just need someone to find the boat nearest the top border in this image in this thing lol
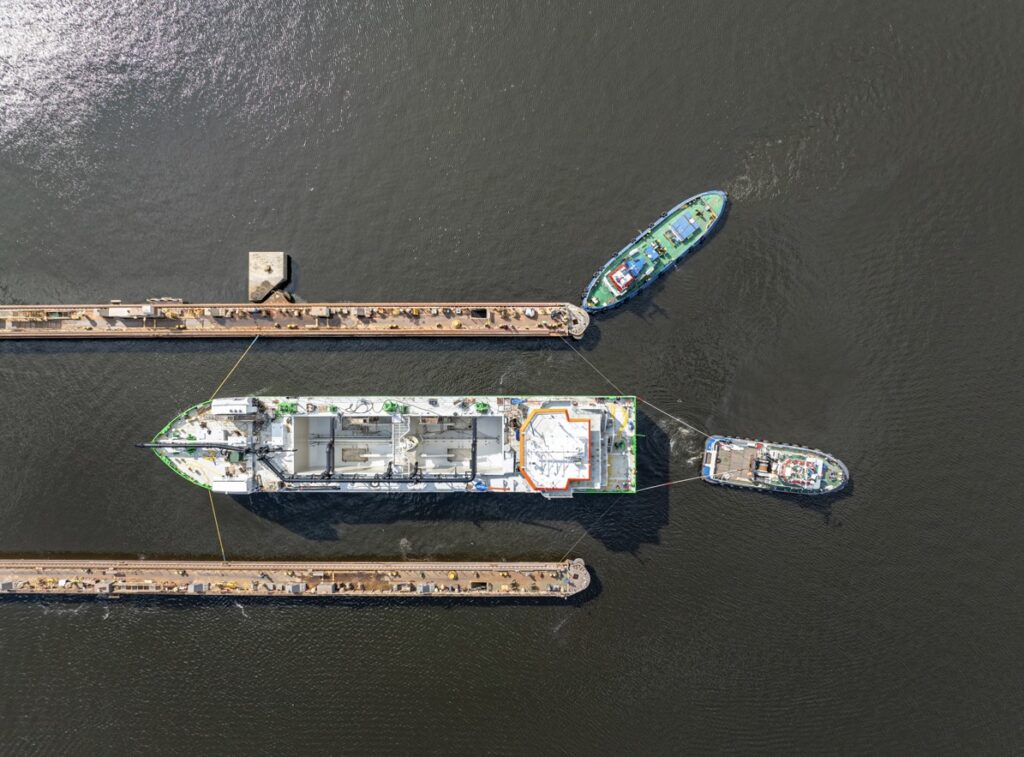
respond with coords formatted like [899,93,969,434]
[576,192,728,317]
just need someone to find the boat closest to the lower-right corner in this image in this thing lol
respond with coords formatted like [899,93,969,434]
[700,434,849,496]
